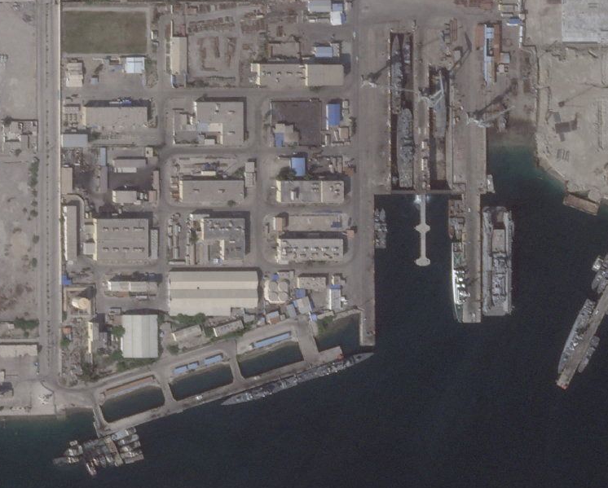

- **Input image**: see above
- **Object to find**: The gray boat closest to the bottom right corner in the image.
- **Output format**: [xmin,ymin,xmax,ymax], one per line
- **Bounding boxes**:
[579,336,599,372]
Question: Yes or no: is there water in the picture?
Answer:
Yes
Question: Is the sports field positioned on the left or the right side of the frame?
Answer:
left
